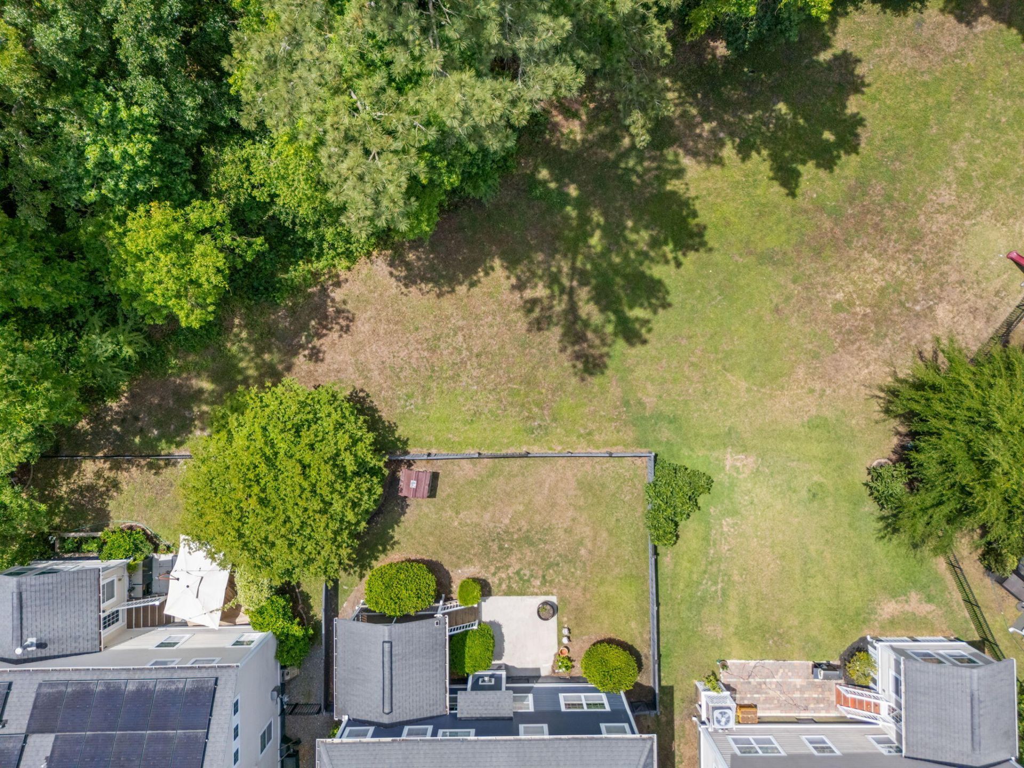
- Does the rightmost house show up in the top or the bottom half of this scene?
bottom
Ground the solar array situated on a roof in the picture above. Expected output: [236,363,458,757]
[0,688,215,768]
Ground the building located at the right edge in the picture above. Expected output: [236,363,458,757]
[687,628,1024,768]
